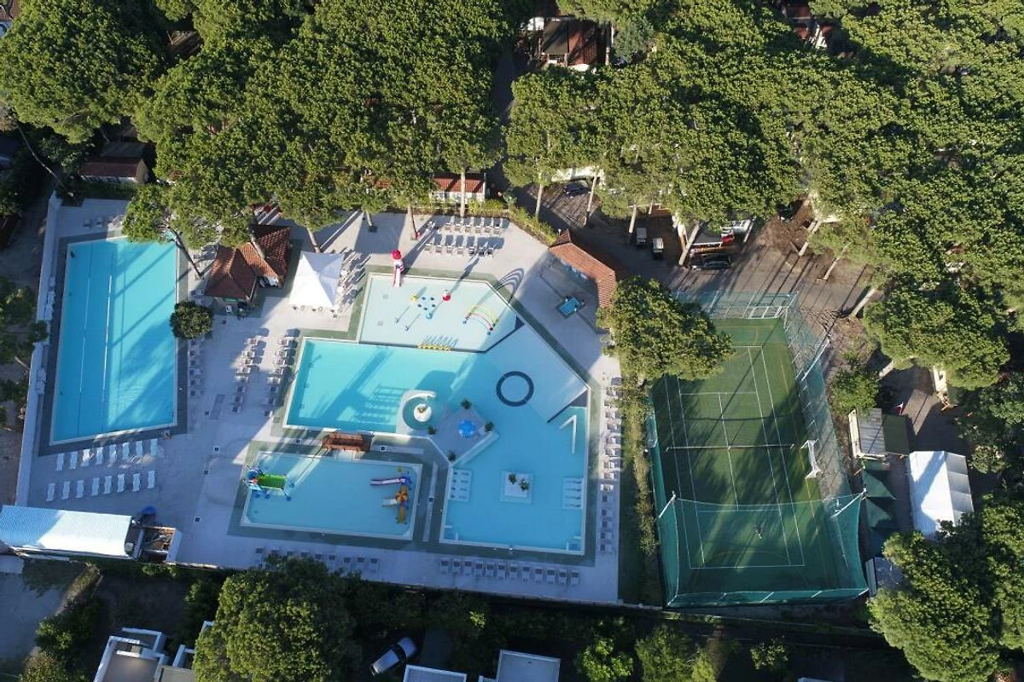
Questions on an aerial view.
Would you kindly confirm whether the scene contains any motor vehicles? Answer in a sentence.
Yes, a motor vehicle appears in the view.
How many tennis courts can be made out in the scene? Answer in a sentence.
Only 1 tennis court is visible.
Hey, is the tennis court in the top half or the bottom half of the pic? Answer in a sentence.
Seen from above, the tennis court lies in the bottom half of the view.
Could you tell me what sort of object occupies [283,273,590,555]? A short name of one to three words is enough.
swimming pool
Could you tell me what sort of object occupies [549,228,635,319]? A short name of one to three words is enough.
building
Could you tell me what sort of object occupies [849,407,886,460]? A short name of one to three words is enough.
shed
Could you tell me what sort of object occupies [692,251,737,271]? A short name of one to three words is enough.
car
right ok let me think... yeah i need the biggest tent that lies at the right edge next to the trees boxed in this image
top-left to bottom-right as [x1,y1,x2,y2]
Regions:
[898,452,977,546]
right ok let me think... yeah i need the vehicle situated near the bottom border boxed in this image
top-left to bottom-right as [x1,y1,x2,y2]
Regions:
[367,636,418,678]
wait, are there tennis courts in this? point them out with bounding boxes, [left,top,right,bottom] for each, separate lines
[646,319,841,600]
